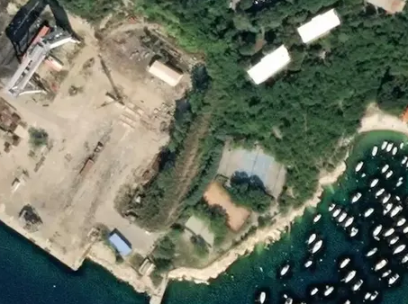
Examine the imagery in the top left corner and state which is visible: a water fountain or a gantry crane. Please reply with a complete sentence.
Looking in the top left corner, you will find a gantry crane.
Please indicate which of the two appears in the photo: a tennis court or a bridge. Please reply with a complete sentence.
I can see a tennis court in this picture.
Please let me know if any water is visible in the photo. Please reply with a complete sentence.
Yes, water shows up in the scene.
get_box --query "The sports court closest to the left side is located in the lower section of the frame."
[184,217,217,248]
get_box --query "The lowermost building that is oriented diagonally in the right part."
[247,44,294,84]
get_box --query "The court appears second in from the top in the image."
[200,184,253,232]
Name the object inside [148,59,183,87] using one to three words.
building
